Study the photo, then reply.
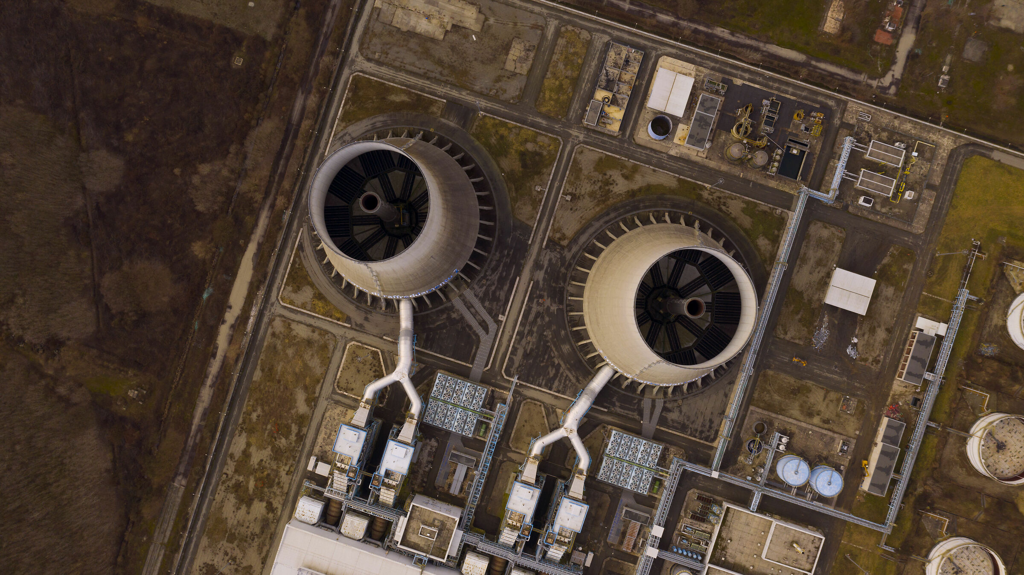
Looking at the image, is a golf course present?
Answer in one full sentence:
No, no golf course can be seen from above.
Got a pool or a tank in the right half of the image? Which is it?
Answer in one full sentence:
Visible in the right half of the image is a tank.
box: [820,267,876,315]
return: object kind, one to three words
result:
shed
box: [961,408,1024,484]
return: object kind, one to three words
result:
storage tank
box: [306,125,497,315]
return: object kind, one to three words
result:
cooling tower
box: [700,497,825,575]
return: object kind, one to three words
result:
building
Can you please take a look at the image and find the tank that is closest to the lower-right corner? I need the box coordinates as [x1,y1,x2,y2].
[920,532,1006,575]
